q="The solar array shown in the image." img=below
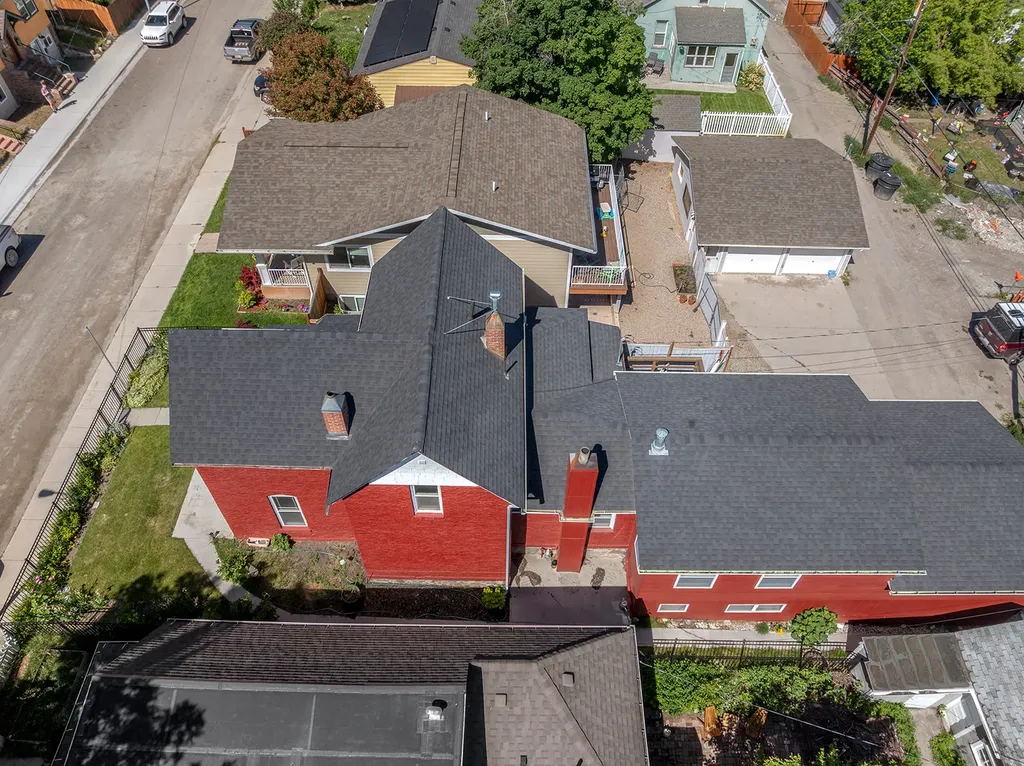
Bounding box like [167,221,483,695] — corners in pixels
[365,0,433,64]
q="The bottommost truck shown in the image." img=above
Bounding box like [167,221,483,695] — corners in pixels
[972,299,1024,368]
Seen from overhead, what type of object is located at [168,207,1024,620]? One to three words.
house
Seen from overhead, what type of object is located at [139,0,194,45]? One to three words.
car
